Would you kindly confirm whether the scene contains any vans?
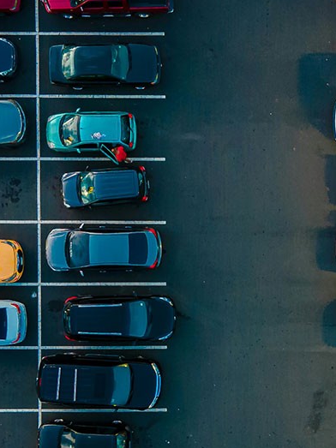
Yes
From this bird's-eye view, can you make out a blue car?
Yes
